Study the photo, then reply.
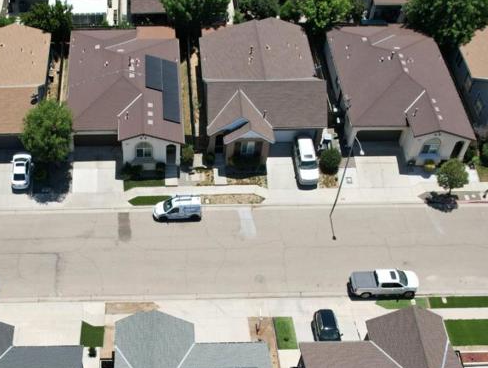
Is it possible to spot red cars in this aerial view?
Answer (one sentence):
No, there is no red car in the image.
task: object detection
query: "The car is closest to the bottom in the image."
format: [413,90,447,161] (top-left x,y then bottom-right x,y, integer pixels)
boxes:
[312,305,344,342]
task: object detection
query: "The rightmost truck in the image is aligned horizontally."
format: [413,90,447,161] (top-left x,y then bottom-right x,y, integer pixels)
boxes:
[347,269,417,297]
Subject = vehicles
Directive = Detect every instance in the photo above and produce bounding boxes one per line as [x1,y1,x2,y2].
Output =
[347,269,417,297]
[293,141,319,184]
[312,305,344,342]
[152,198,202,224]
[10,155,33,192]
